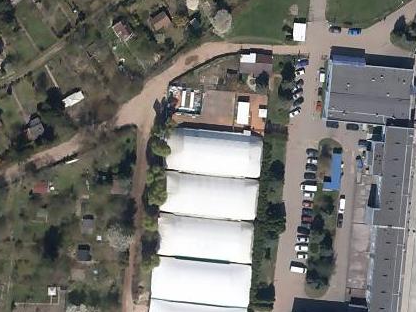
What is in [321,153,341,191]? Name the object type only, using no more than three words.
building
